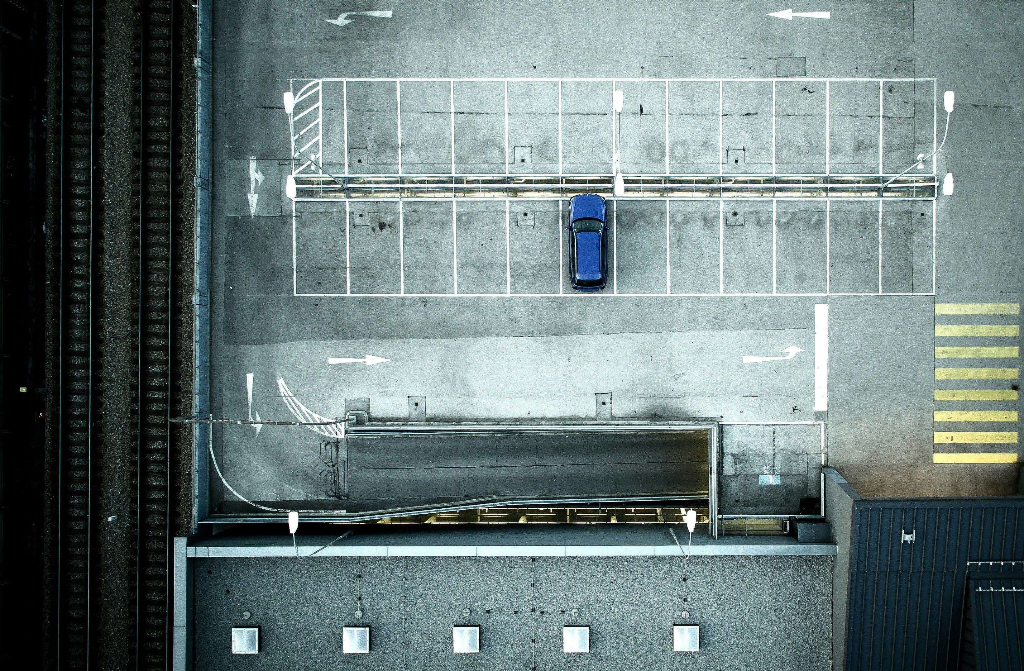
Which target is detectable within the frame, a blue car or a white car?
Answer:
blue car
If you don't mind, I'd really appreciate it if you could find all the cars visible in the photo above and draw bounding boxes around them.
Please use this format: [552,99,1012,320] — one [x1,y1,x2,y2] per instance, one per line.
[565,193,611,294]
